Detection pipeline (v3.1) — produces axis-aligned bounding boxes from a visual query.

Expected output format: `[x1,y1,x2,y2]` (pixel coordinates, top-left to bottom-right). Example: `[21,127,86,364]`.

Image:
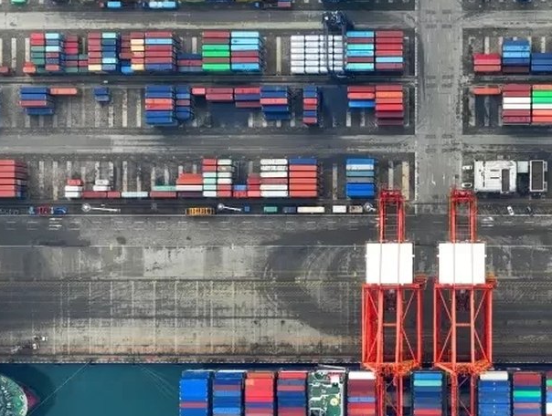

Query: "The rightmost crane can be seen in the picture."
[429,190,499,416]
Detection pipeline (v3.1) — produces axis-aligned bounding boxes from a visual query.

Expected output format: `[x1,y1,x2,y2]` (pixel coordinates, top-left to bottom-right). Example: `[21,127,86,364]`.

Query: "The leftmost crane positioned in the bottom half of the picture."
[361,190,429,416]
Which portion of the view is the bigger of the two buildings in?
right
